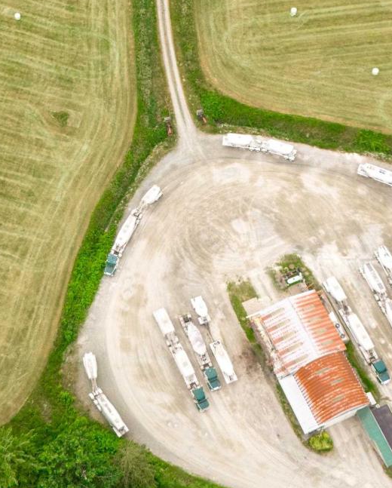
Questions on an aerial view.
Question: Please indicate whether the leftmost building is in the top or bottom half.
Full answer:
The leftmost building sits in the bottom half of the picture.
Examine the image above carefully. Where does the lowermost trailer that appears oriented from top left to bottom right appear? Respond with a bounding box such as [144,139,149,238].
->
[92,389,128,436]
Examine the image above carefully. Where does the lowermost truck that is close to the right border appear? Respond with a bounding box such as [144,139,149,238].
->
[370,343,392,387]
